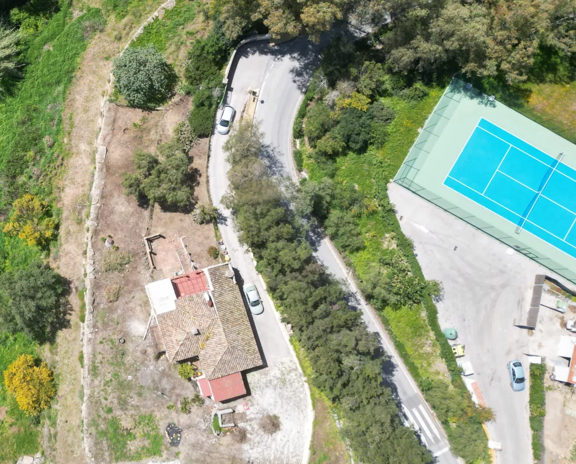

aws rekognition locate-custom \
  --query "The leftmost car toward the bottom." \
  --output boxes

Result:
[242,282,264,316]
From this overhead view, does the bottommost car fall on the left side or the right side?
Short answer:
right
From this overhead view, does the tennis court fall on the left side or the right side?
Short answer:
right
